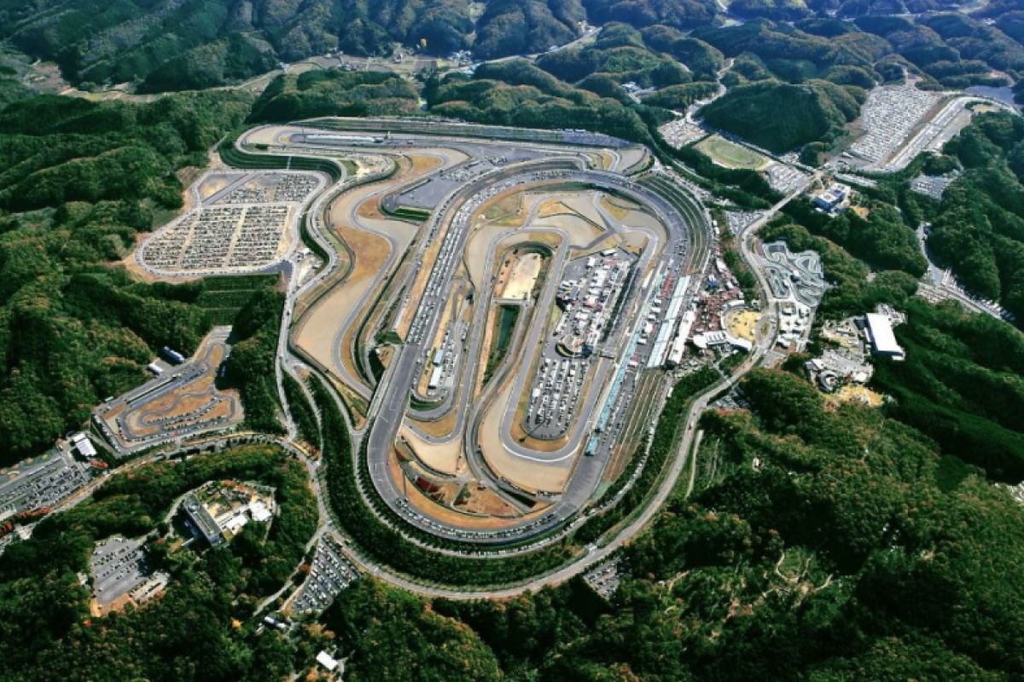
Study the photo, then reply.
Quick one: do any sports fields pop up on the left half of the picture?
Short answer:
No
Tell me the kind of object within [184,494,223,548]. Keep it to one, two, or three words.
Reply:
building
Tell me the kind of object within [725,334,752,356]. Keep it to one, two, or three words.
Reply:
building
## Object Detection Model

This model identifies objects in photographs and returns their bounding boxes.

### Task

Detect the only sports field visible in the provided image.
[693,133,775,170]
